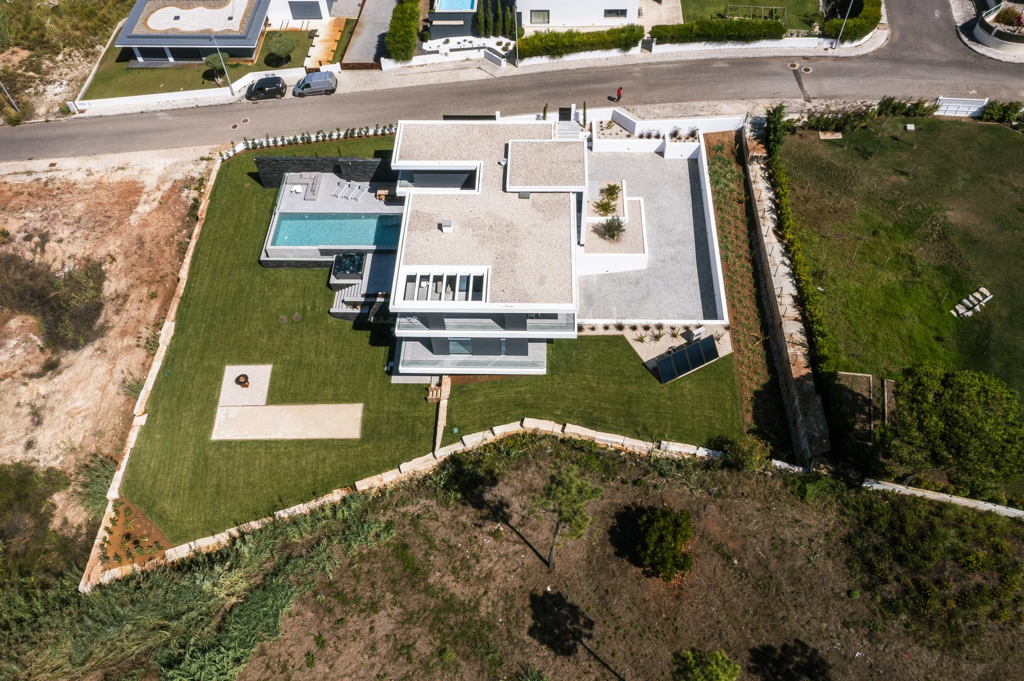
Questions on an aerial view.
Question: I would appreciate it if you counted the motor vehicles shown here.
two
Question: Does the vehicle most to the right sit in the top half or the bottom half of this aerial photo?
top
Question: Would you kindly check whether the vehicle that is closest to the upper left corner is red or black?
black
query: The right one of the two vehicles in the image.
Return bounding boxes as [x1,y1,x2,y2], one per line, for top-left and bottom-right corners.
[291,70,338,95]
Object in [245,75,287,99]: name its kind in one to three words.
vehicle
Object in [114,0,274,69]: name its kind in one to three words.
house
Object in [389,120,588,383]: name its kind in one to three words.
house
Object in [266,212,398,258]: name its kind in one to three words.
swimming pool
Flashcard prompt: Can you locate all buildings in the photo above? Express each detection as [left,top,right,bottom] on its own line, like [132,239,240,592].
[114,0,274,69]
[389,120,588,383]
[521,0,639,25]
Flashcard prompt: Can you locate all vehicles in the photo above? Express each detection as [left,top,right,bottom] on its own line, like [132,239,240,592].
[291,70,338,95]
[245,75,287,99]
